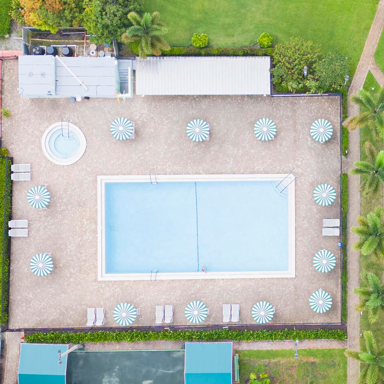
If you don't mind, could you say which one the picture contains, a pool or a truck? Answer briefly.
pool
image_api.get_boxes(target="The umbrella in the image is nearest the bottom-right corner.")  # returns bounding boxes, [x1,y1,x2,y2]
[309,290,332,314]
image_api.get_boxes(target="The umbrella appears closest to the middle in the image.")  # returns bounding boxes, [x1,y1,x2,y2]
[187,119,210,142]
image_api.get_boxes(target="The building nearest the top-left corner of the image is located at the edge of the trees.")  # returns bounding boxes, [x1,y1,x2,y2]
[16,55,136,99]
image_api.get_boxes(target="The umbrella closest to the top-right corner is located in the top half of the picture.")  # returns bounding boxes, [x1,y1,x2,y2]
[310,119,334,143]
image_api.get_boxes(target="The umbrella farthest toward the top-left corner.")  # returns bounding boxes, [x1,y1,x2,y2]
[110,117,135,141]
